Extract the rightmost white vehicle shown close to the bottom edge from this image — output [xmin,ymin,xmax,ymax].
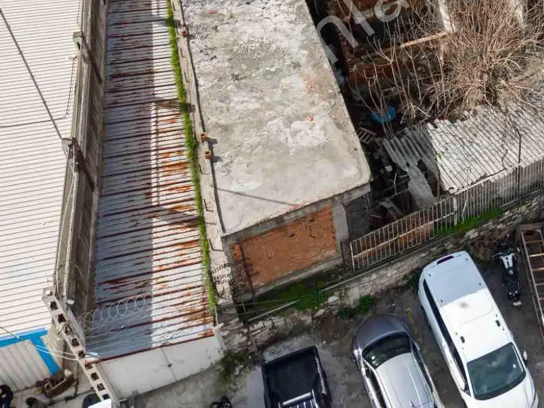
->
[414,247,543,408]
